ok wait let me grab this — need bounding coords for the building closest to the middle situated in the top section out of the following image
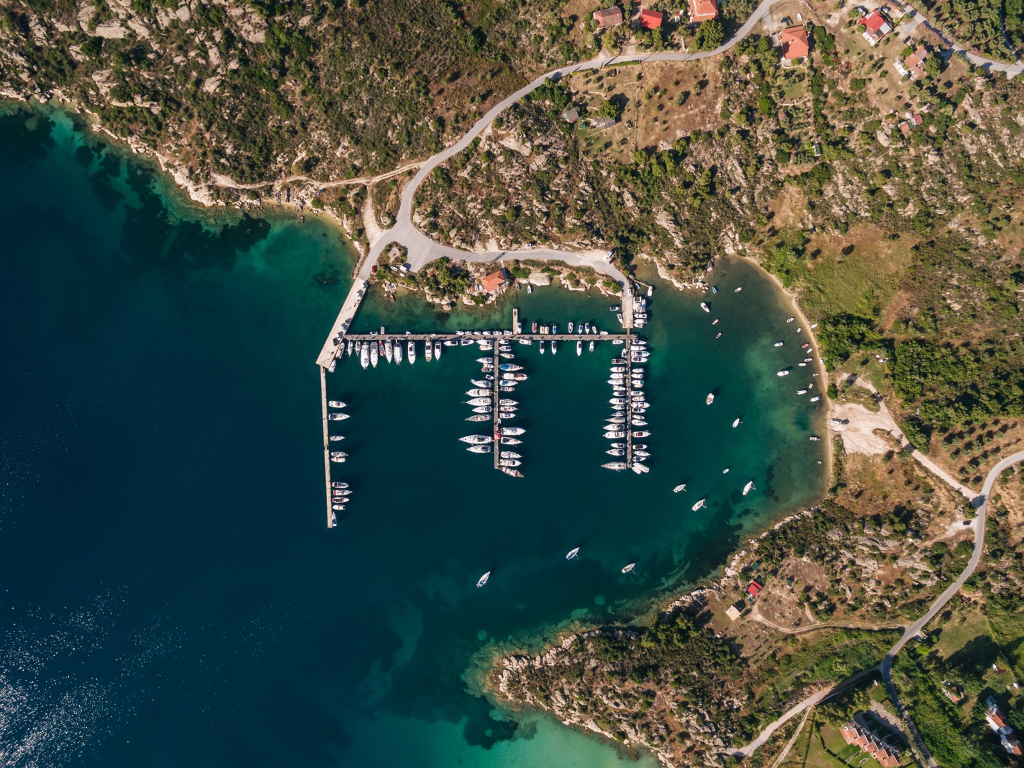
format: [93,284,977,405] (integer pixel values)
[480,271,504,292]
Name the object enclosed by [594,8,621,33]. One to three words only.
house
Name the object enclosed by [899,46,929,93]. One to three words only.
house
